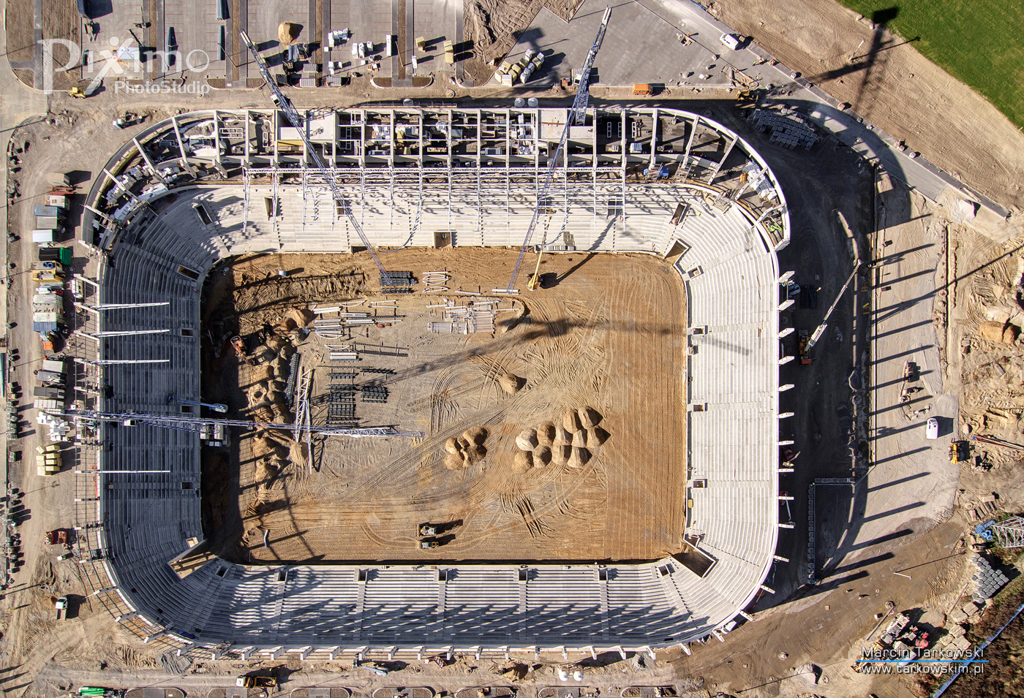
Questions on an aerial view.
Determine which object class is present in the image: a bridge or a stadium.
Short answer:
stadium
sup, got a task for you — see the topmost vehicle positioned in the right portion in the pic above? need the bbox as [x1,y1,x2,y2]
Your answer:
[720,31,741,49]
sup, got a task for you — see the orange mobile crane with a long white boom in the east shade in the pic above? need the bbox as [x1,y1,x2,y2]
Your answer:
[791,260,861,367]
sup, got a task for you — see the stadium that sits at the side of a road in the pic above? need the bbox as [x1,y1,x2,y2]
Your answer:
[74,108,794,660]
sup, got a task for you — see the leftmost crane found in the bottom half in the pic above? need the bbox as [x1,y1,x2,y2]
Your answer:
[55,408,424,442]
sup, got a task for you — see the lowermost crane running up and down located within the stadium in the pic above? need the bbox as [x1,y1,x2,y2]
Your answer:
[517,211,554,302]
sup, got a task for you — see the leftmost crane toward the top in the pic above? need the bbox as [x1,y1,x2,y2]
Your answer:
[238,29,388,281]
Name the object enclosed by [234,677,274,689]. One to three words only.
vehicle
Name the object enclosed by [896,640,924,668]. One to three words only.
truck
